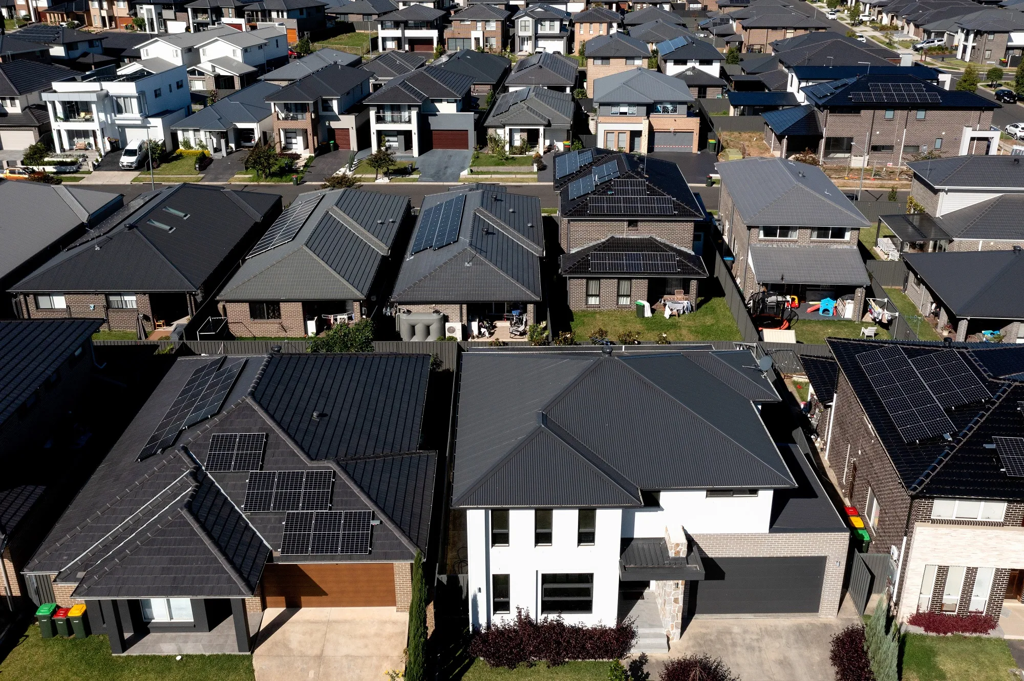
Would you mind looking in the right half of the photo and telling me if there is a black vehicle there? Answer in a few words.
Yes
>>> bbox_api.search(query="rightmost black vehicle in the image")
[995,88,1020,104]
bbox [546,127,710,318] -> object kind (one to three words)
house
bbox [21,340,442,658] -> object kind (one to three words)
house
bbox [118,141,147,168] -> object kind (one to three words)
vehicle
